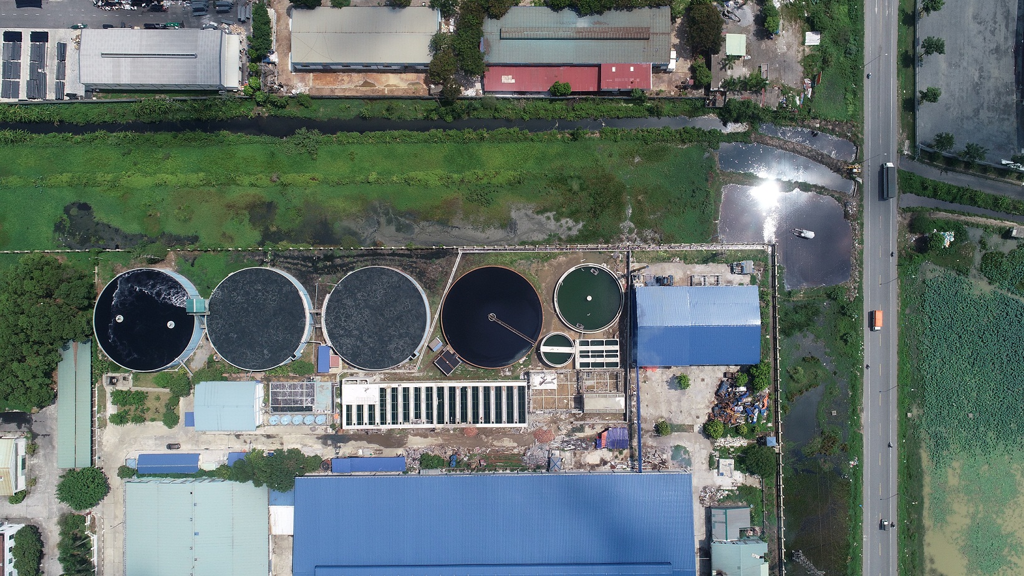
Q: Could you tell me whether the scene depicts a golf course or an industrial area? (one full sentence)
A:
It's an industrial area.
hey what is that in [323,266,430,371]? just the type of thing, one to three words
storage tank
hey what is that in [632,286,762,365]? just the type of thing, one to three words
building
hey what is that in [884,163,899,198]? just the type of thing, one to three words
vehicle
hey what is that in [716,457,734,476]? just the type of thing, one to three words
shed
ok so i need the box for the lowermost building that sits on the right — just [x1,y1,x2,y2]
[706,538,767,576]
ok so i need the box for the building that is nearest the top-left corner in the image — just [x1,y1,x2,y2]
[75,29,227,89]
